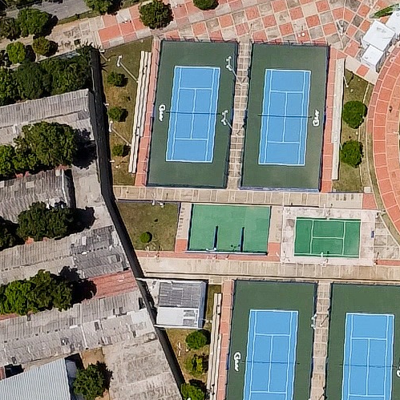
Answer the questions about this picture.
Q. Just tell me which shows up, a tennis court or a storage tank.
tennis court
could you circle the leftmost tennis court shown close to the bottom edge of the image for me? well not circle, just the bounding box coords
[227,282,318,400]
